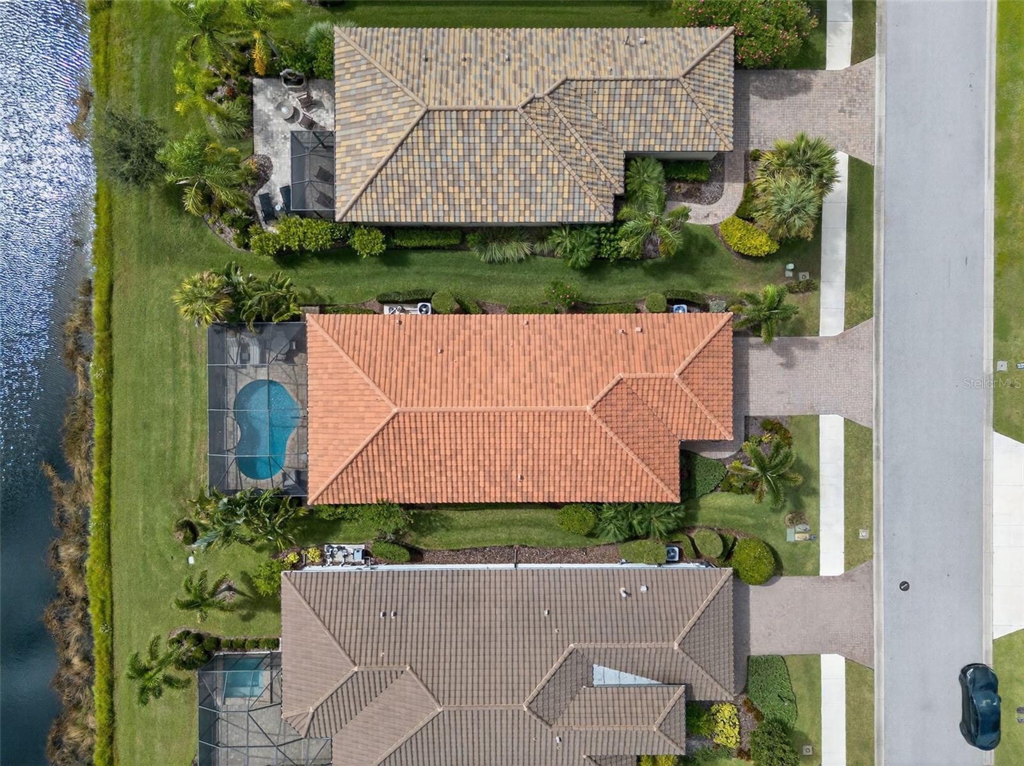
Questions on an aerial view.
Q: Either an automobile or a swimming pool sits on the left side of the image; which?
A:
swimming pool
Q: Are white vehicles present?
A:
No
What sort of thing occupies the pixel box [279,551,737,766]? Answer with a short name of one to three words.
house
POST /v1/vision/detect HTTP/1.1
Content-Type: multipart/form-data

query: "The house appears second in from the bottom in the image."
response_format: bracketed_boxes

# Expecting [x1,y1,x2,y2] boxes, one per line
[305,311,735,506]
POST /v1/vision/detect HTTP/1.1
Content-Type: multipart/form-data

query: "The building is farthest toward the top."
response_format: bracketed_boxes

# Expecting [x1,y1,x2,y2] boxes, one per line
[332,23,737,225]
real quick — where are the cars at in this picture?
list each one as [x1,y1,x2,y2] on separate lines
[955,664,1004,751]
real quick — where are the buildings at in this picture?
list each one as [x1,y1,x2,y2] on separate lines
[332,23,737,225]
[279,551,737,766]
[305,311,735,506]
